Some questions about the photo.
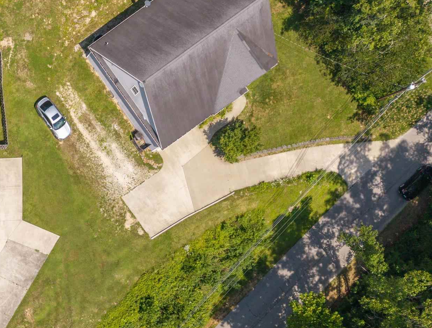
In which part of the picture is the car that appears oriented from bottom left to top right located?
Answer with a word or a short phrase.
right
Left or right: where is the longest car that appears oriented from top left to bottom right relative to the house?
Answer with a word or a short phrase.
to the left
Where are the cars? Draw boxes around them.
[35,97,70,144]
[396,159,432,202]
